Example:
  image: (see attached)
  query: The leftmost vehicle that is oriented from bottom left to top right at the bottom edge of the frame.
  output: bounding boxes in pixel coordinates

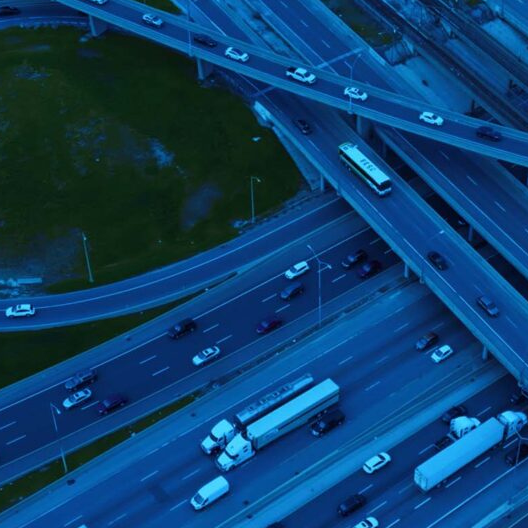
[190,472,232,508]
